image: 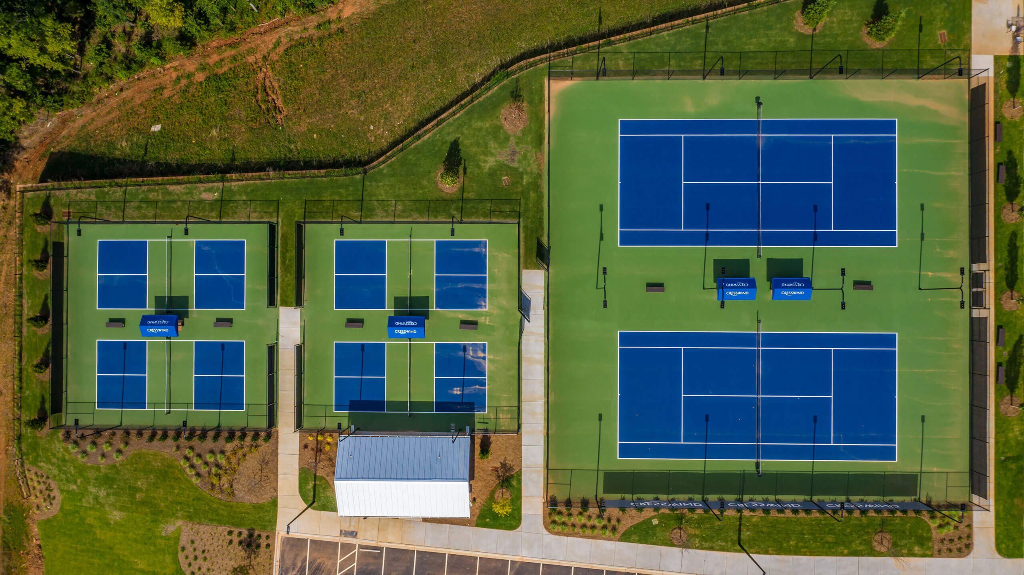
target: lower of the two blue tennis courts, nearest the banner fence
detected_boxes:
[547,289,971,503]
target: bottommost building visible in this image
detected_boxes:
[334,434,470,519]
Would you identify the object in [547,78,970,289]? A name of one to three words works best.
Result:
tennis court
